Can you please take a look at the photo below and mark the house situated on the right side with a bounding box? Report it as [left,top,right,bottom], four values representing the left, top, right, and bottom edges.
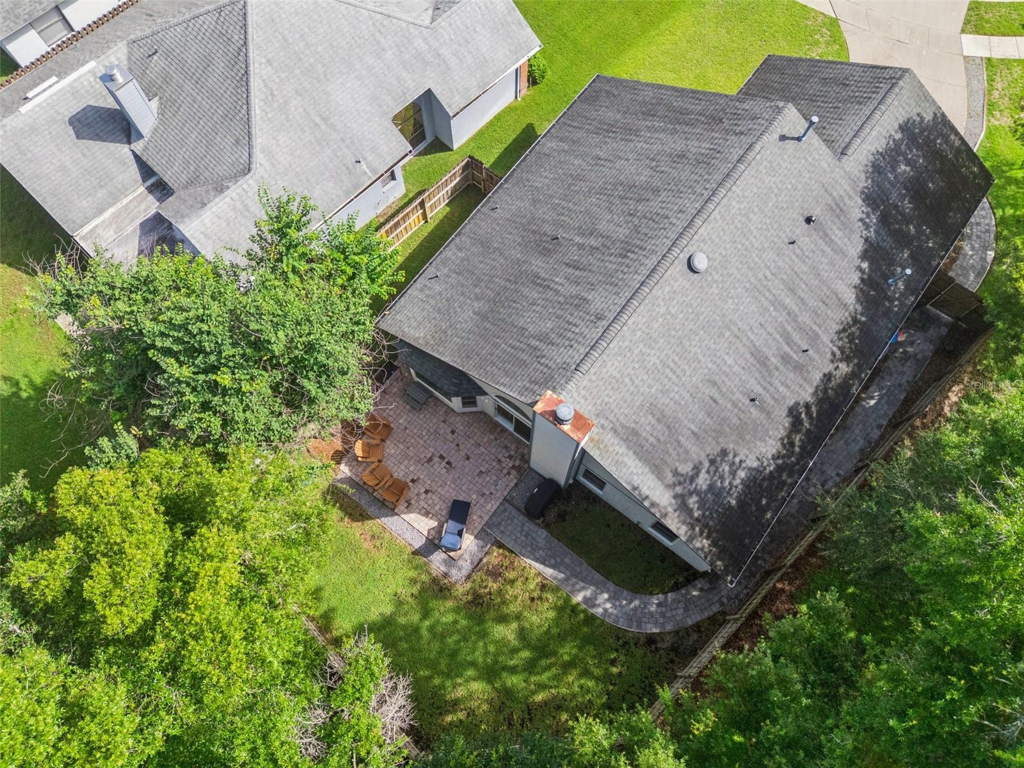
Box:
[374,54,996,587]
